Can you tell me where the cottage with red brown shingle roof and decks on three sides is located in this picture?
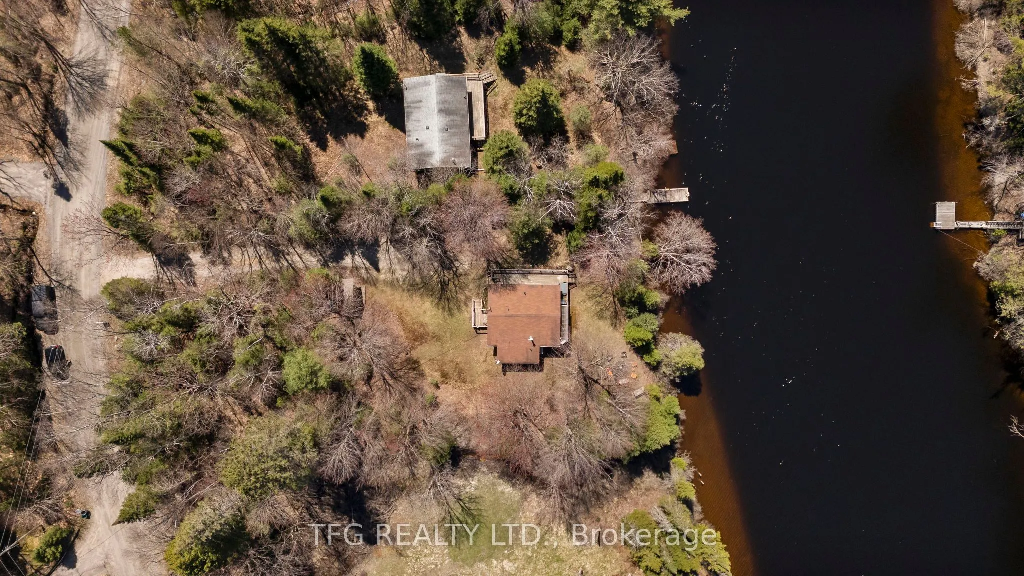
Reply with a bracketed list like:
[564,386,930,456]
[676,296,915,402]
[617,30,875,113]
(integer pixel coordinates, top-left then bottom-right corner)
[487,284,567,365]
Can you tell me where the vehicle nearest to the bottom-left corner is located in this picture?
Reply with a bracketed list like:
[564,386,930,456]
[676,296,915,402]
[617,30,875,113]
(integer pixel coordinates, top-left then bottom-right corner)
[45,342,72,384]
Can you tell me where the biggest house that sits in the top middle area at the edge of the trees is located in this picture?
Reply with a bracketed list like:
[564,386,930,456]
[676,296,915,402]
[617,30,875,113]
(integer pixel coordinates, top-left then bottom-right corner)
[401,74,472,172]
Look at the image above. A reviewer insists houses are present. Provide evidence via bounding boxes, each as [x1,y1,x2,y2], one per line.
[487,284,567,365]
[401,74,472,172]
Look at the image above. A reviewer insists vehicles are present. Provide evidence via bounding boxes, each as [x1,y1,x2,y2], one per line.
[31,285,59,337]
[45,342,72,384]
